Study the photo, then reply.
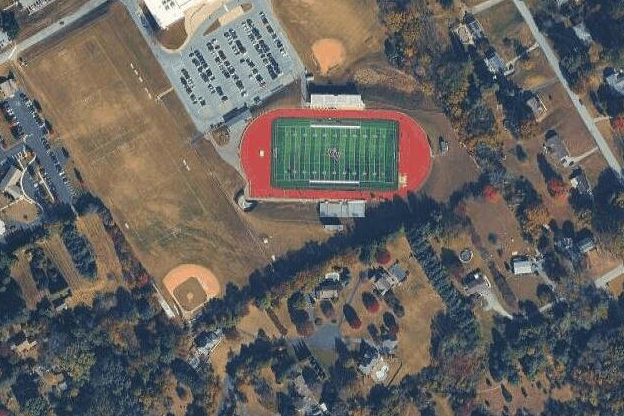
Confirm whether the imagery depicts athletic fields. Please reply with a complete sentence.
Yes, the image includes an athletic field.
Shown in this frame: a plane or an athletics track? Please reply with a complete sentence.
The image shows an athletics track.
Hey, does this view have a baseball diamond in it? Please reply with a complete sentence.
Yes, a baseball diamond can be made out from above.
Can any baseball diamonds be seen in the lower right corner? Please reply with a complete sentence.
No, in the lower right corner there is no baseball diamond.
